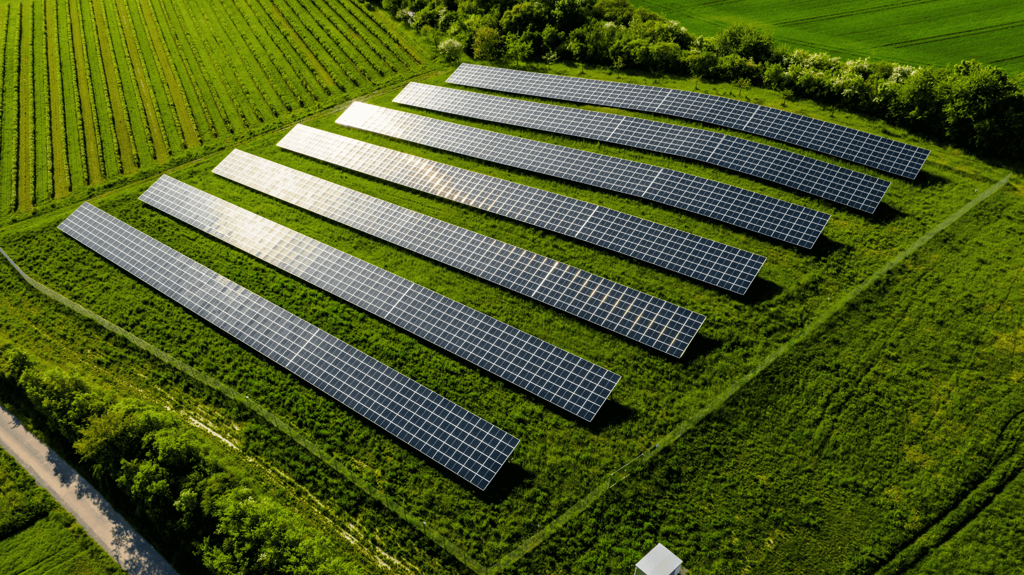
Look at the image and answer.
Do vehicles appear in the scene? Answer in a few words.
No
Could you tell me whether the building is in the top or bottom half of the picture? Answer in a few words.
bottom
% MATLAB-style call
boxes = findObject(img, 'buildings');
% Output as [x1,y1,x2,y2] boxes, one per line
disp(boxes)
[635,544,683,575]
